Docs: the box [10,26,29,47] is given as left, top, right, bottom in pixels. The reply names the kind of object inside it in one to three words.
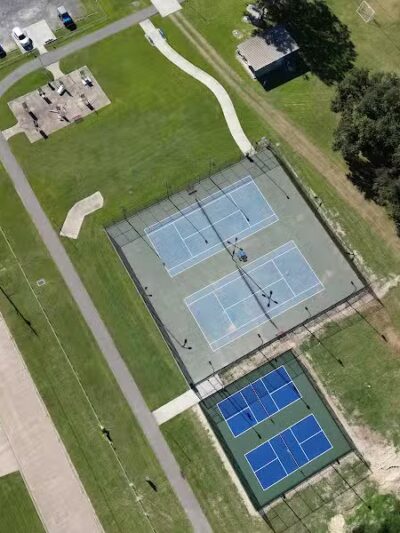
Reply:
car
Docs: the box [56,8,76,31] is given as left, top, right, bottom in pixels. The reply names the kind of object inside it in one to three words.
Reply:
vehicle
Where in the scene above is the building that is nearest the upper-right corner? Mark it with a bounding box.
[232,24,299,80]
